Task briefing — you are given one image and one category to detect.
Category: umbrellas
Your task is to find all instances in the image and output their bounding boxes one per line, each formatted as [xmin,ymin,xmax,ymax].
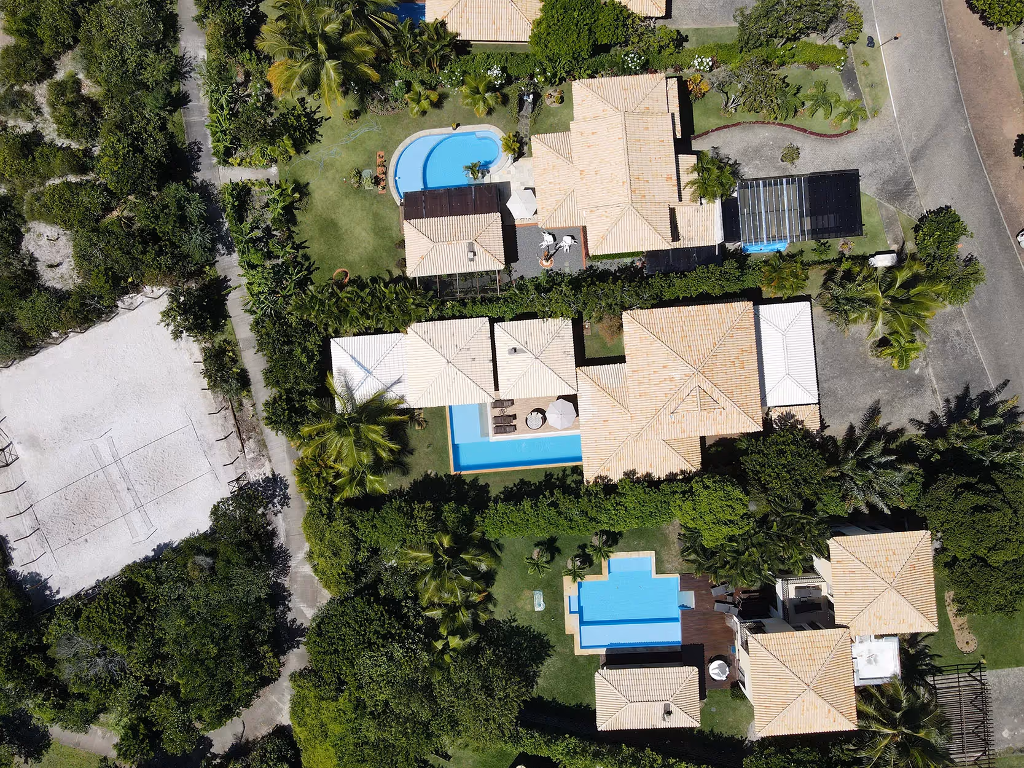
[504,187,537,220]
[545,398,577,430]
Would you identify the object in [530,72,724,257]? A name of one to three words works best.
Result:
house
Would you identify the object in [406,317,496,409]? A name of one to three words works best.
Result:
building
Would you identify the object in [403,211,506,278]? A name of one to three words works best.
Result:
building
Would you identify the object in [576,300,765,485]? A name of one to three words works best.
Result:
house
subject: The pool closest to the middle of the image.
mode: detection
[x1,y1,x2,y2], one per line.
[449,372,583,474]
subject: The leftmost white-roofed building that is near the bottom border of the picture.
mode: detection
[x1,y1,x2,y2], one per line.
[594,664,702,732]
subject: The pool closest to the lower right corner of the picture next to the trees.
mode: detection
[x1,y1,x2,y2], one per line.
[563,550,695,655]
